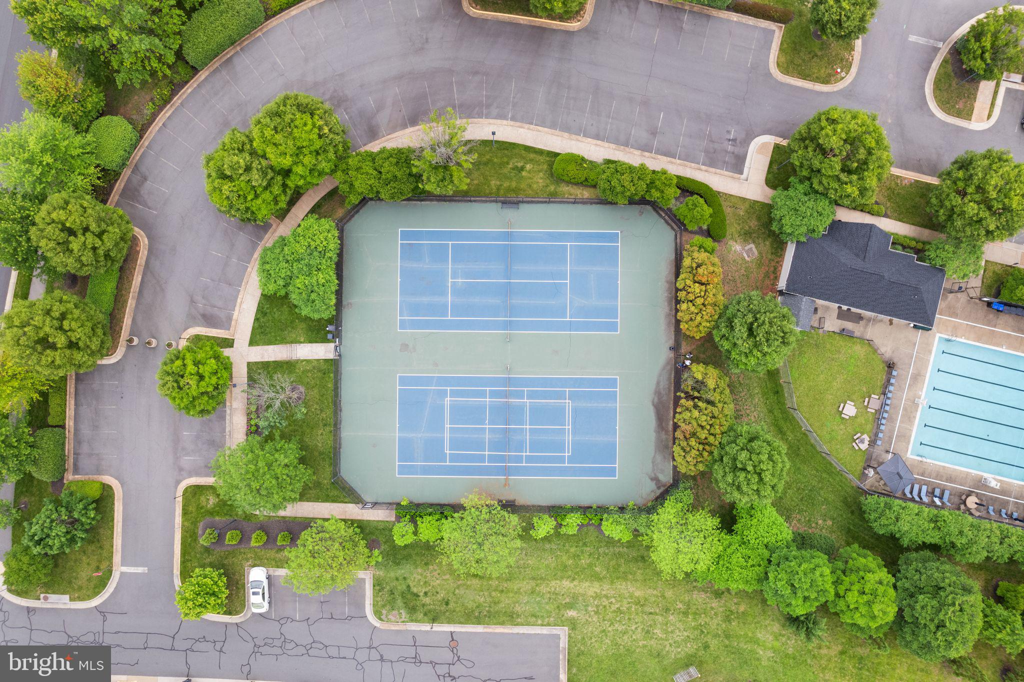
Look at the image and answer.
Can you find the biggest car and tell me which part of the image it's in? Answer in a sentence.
The biggest car is in the bottom left part of the image.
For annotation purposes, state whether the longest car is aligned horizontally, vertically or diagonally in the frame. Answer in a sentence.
What the image shows is the longest car lying vertically.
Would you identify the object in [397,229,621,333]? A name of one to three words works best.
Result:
tennis court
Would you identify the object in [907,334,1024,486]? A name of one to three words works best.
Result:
swimming pool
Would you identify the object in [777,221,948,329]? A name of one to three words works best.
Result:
building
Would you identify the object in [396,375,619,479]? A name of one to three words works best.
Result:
tennis court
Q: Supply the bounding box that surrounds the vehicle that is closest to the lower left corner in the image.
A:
[247,567,270,614]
